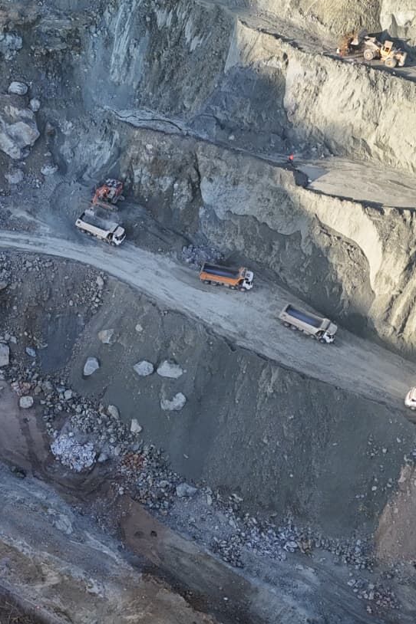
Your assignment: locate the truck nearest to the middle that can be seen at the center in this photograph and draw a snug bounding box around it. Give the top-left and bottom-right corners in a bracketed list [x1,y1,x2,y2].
[200,260,259,291]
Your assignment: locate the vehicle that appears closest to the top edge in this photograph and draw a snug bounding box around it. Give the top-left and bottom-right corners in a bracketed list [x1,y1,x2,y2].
[352,25,411,68]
